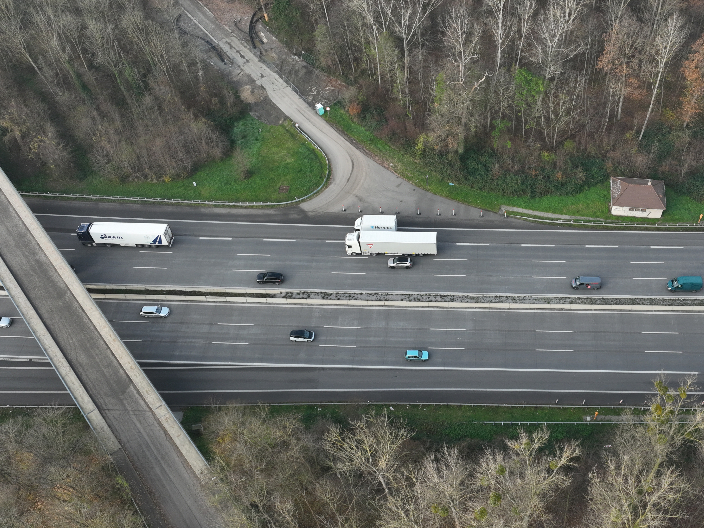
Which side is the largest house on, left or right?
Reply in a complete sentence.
The largest house is on the right side of the image.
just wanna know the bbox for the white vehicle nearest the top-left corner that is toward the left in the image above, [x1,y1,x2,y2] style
[75,221,175,247]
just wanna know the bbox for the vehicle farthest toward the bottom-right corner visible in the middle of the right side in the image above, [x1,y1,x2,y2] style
[666,274,704,292]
